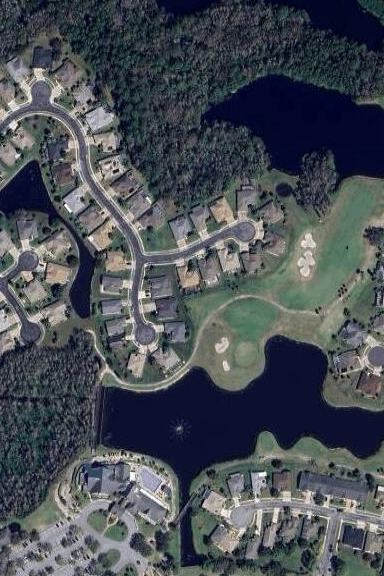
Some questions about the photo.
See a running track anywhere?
No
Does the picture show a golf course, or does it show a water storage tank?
golf course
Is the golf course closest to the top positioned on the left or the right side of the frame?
right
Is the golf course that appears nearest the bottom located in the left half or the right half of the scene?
right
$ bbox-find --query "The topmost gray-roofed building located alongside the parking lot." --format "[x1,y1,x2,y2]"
[78,461,170,523]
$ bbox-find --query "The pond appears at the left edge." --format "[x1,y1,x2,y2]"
[0,160,94,318]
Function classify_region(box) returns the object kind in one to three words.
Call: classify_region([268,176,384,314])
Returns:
golf course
